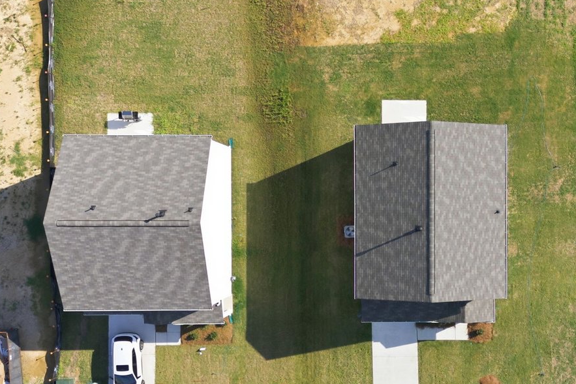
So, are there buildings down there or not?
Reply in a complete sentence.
Yes, this view includes a building.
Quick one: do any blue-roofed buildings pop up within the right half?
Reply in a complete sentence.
No, I can find no blue-roofed building within the right half.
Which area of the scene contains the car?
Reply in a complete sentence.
The car appears toward the bottom left of the photo.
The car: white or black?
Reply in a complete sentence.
The color of the car is white.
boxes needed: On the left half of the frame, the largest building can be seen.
[43,132,232,325]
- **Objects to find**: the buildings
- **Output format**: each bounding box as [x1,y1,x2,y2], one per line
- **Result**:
[353,120,509,324]
[43,132,232,325]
